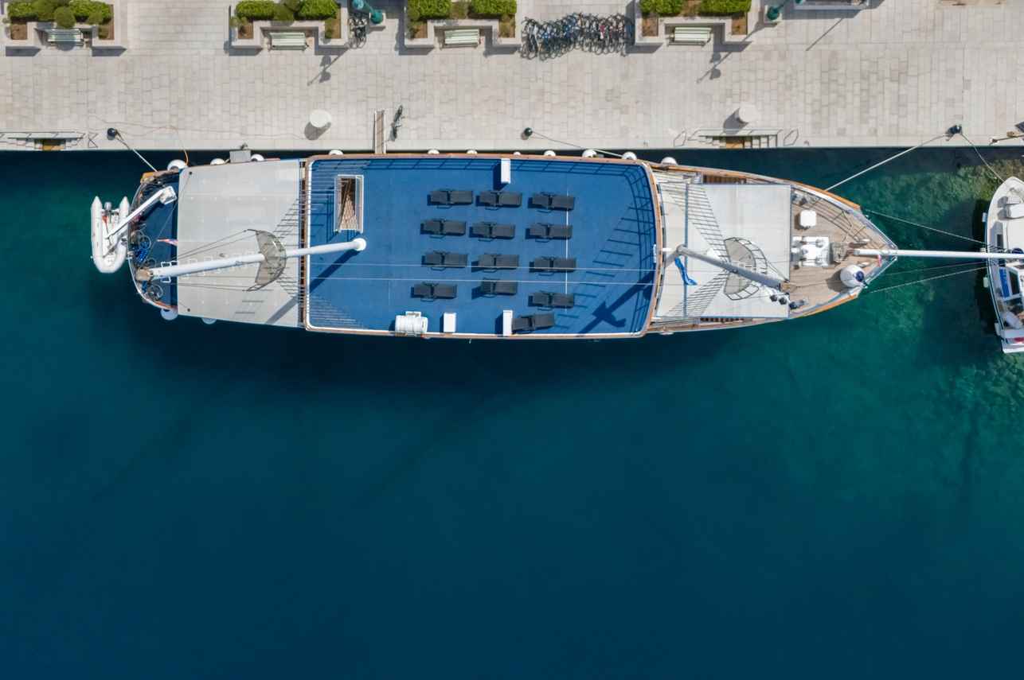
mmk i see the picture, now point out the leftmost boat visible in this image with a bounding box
[91,195,129,270]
